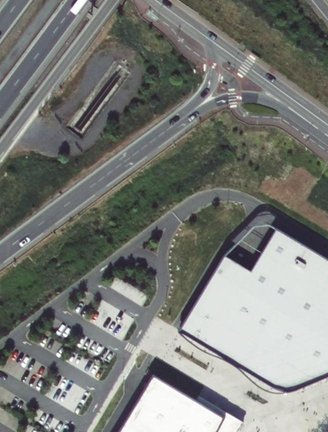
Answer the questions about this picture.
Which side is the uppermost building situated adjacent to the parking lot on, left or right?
right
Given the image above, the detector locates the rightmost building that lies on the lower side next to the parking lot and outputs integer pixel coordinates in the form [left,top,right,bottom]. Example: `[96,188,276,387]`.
[182,224,328,396]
